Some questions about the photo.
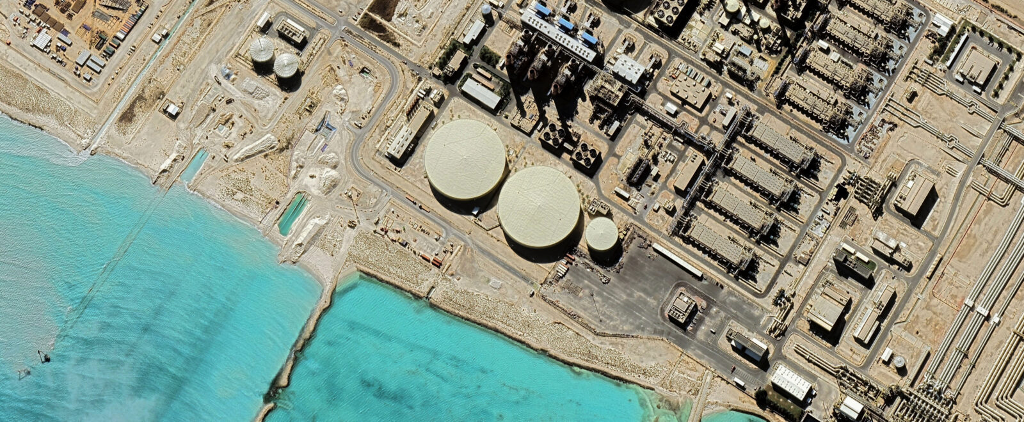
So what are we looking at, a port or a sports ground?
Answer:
port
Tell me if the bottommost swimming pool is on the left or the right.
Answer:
left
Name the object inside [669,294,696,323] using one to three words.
building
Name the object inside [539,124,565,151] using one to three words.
cooling tower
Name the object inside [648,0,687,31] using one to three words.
cooling tower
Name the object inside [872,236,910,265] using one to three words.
building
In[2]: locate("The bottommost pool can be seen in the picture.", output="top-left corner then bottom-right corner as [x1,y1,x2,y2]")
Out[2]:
[277,193,309,236]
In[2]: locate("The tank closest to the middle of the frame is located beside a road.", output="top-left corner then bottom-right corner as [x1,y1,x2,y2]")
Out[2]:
[497,166,580,250]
